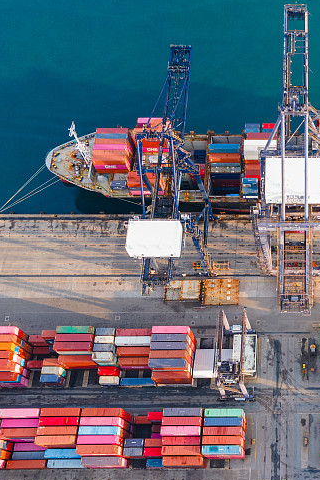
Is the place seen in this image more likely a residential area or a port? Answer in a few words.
port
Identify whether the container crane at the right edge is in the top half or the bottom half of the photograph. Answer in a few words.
top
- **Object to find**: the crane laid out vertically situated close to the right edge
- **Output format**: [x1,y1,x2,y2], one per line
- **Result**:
[250,2,320,312]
